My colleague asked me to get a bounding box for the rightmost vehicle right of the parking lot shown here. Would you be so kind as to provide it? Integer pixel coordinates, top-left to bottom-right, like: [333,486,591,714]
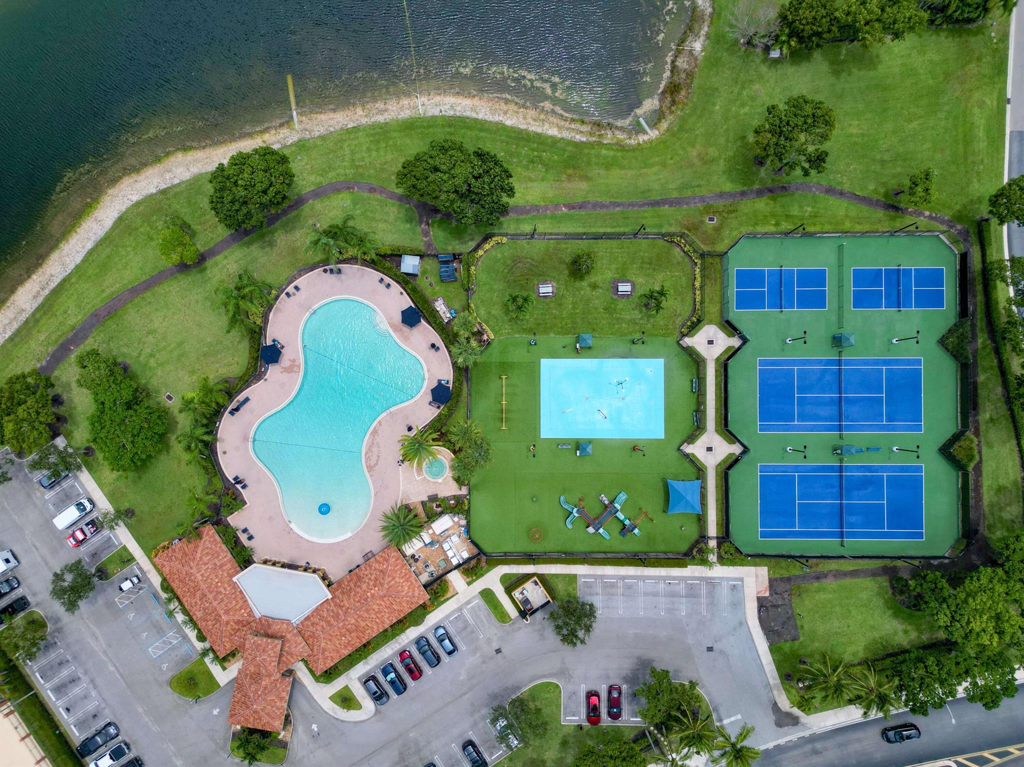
[882,723,920,744]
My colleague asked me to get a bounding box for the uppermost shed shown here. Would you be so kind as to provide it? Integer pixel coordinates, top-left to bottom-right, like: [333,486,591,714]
[398,254,418,273]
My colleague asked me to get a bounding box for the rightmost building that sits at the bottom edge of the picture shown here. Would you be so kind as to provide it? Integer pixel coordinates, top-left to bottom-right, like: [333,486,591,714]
[153,522,429,733]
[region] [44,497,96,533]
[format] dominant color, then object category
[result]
white van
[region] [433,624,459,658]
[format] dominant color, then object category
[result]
blue car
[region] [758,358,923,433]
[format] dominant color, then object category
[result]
blue tennis court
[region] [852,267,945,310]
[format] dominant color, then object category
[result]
blue sports court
